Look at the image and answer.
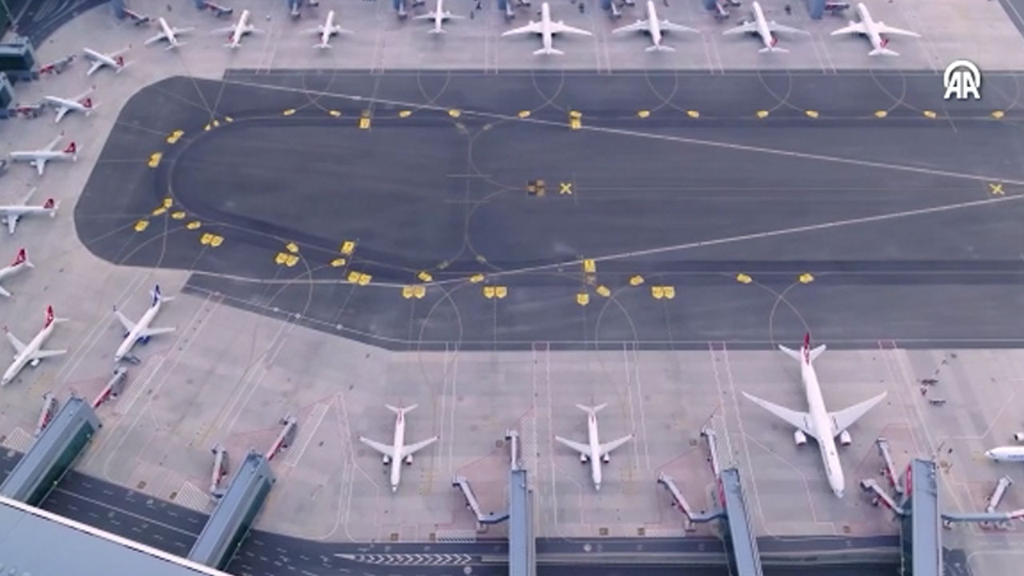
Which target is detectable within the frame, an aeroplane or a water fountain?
aeroplane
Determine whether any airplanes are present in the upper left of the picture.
Yes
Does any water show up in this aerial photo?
No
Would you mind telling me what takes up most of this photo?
paved ground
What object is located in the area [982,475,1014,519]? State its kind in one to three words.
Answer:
jet bridge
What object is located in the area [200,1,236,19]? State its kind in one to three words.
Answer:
jet bridge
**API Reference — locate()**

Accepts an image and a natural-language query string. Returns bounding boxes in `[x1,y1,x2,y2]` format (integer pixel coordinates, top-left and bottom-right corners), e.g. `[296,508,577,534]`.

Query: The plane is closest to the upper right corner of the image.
[831,1,923,53]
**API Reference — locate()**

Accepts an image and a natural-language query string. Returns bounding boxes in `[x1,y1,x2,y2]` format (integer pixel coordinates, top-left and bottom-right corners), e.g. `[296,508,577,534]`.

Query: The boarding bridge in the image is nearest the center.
[504,431,520,475]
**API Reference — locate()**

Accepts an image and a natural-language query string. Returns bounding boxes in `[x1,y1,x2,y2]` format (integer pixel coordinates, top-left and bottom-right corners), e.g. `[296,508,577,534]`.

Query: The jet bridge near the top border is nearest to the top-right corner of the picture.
[825,5,852,17]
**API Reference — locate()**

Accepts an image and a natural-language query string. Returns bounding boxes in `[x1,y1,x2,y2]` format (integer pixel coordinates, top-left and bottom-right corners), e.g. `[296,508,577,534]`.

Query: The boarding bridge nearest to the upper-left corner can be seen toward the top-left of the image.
[31,54,80,79]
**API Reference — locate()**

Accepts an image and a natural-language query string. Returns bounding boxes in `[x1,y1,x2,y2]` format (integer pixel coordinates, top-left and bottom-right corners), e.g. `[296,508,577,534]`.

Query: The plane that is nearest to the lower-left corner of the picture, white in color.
[1,310,68,385]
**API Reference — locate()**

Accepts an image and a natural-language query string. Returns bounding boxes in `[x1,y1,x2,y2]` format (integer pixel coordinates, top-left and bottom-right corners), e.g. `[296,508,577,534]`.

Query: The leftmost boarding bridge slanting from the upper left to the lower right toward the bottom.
[451,478,510,527]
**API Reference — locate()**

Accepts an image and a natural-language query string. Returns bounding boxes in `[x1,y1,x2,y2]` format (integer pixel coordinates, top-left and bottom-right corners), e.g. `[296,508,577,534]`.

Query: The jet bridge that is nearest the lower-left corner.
[33,392,58,439]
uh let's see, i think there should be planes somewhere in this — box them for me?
[1,310,68,385]
[984,446,1024,460]
[83,45,129,75]
[613,0,702,50]
[11,130,79,175]
[113,291,175,362]
[44,86,98,122]
[743,340,886,498]
[0,253,34,299]
[299,10,353,47]
[210,10,264,46]
[723,0,813,51]
[831,1,923,53]
[0,183,62,233]
[412,0,464,32]
[357,404,438,493]
[143,17,196,51]
[554,401,635,491]
[503,1,592,53]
